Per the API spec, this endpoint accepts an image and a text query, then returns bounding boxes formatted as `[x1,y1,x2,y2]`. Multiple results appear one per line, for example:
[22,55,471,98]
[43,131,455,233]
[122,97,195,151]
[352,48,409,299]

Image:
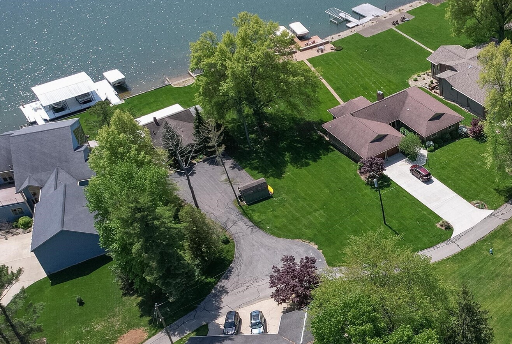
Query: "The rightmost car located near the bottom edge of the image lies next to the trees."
[248,307,265,335]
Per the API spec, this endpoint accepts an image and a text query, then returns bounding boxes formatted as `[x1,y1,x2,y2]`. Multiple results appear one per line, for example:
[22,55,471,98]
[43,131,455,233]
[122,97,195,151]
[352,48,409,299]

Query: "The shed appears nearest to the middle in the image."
[236,178,269,206]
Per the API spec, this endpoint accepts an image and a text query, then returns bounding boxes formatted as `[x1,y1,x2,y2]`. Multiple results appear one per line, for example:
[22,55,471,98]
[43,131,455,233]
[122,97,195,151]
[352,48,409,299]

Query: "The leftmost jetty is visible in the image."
[19,99,50,125]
